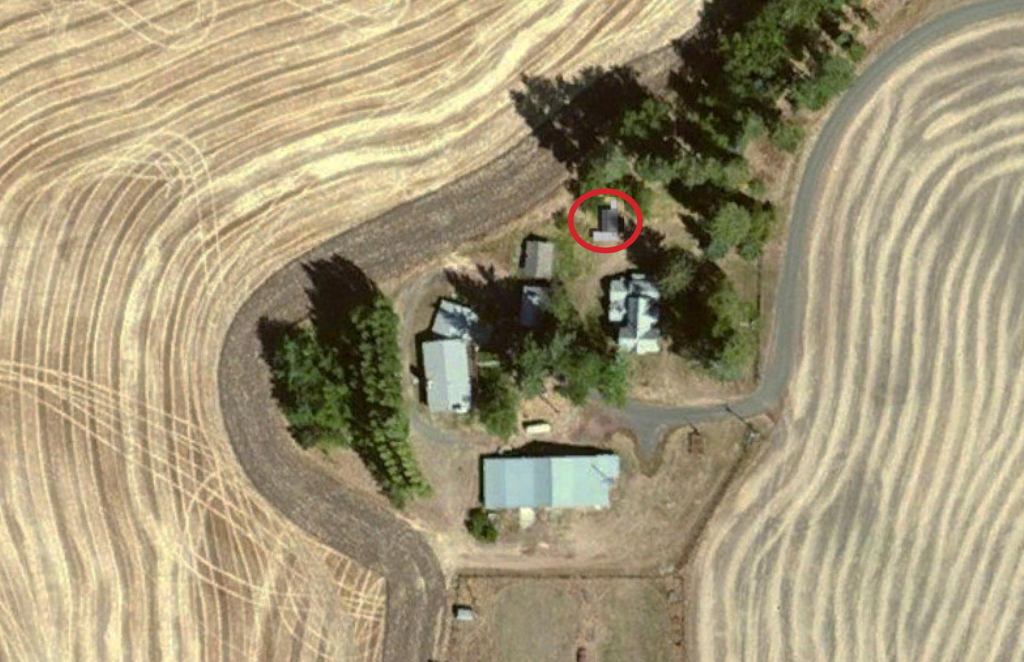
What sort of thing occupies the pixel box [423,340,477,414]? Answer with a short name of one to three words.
building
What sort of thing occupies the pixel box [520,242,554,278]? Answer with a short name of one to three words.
shed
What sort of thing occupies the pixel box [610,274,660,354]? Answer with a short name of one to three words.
house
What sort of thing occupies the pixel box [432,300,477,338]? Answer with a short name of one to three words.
shed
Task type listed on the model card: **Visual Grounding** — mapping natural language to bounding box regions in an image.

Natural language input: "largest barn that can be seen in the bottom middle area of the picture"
[484,454,620,509]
